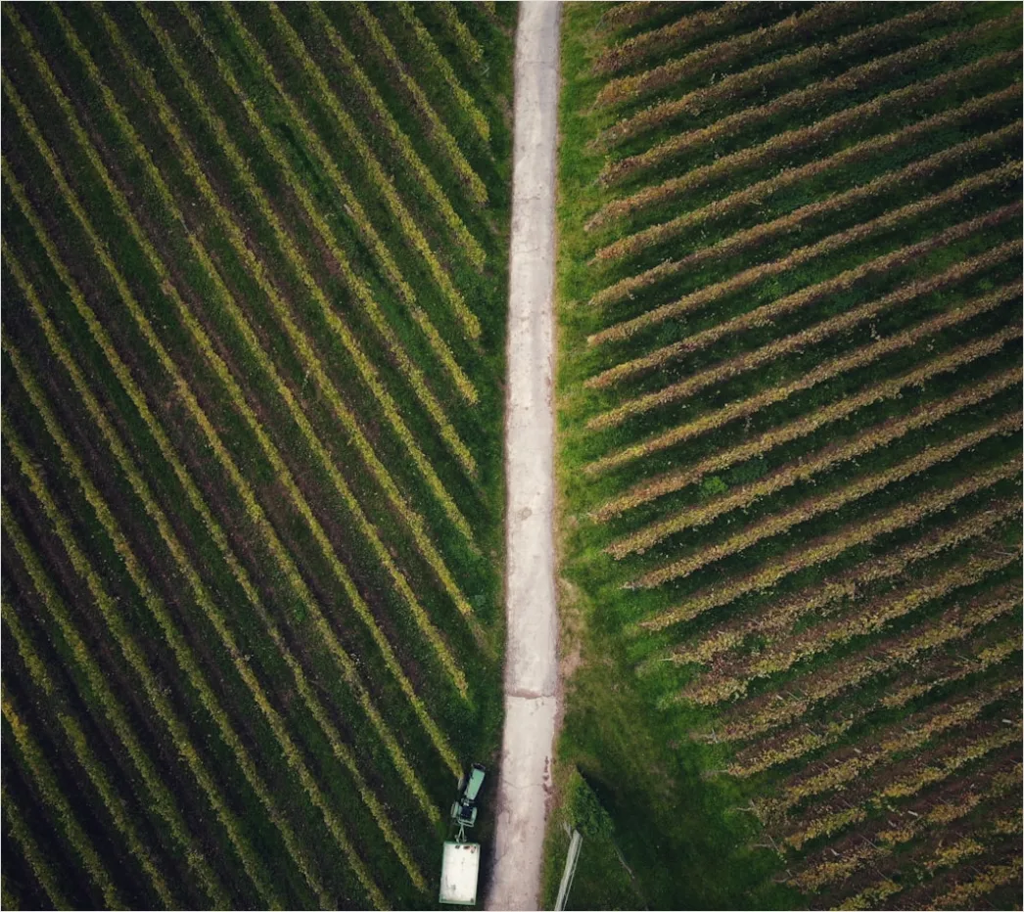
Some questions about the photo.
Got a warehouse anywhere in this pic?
No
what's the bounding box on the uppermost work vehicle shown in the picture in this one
[450,761,487,827]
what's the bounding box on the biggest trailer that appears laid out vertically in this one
[439,826,481,906]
